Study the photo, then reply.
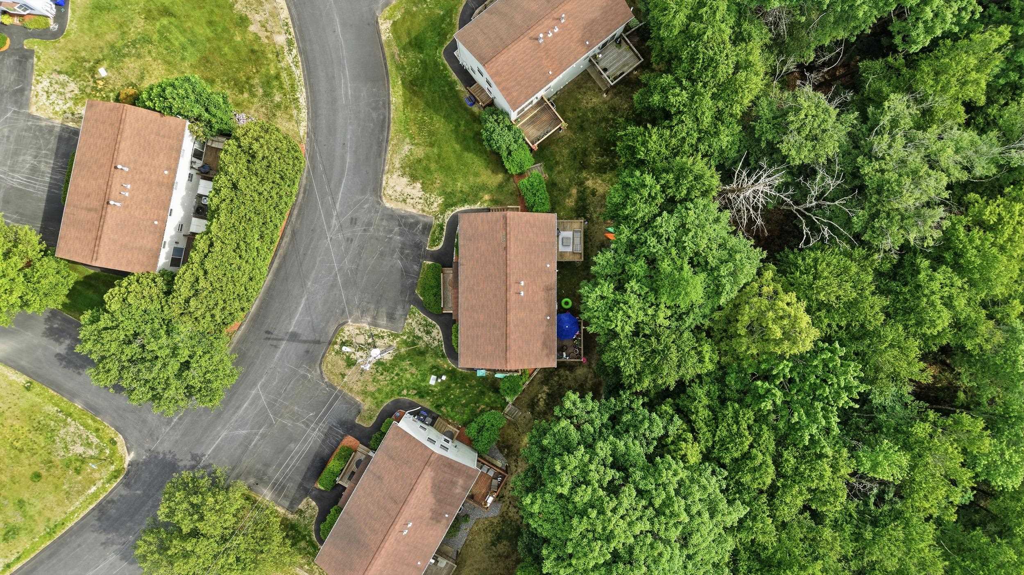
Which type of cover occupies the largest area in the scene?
trees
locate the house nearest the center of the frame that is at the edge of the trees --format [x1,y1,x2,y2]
[441,208,583,373]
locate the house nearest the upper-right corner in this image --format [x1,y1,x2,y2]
[454,0,643,150]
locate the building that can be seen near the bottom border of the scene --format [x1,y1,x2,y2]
[314,410,508,575]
